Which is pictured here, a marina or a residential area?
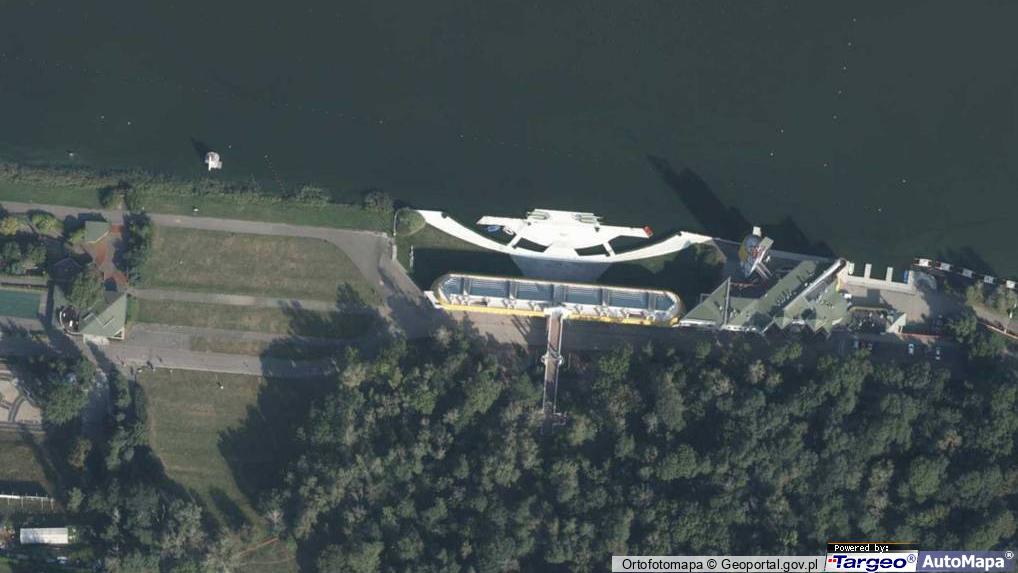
marina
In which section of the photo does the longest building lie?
right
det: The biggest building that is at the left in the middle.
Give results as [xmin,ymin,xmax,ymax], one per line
[76,290,126,344]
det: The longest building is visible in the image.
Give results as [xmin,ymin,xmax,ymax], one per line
[680,258,849,334]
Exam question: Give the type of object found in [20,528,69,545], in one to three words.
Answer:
shed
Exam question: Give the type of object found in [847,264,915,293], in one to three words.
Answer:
pier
